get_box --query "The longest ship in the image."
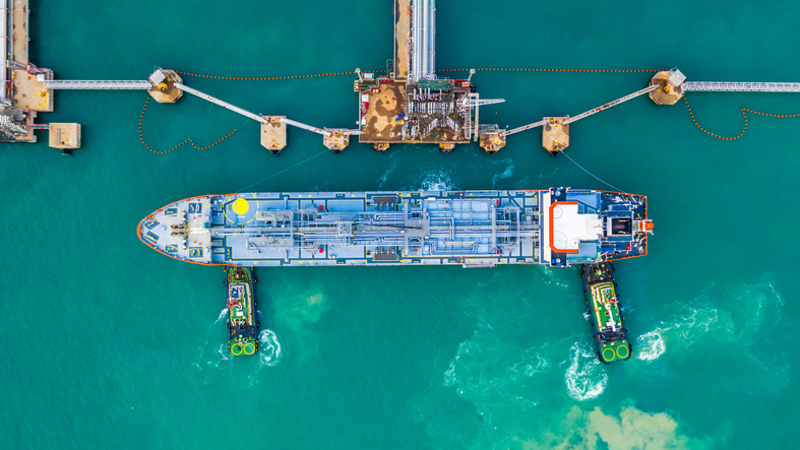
[137,186,655,267]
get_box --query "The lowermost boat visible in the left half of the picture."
[225,266,259,360]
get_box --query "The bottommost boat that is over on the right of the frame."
[583,262,634,366]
